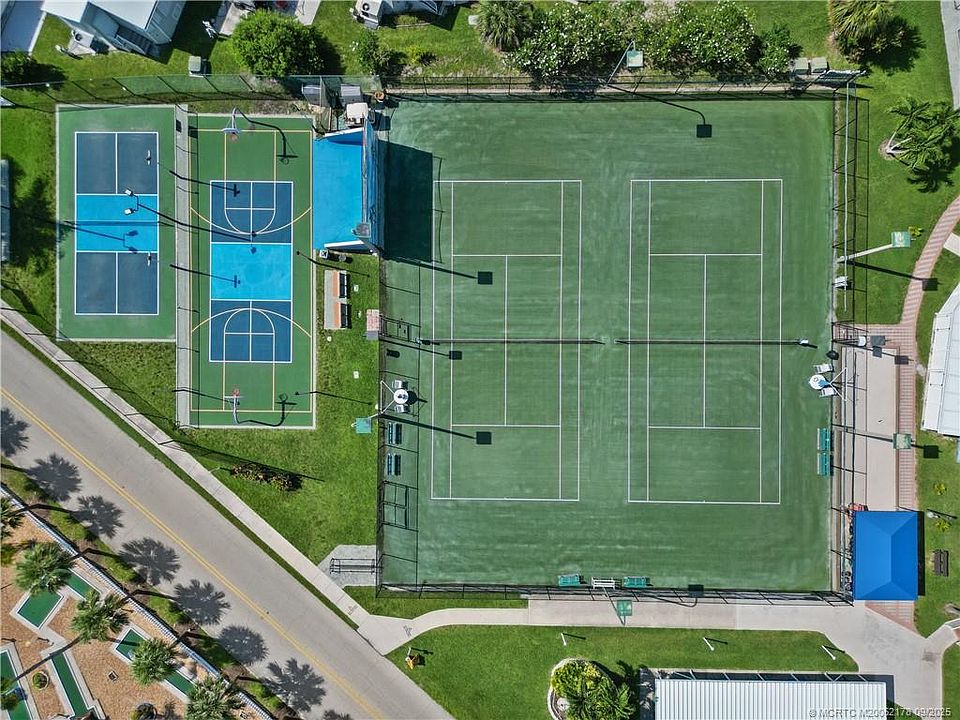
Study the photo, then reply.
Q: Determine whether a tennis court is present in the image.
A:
Yes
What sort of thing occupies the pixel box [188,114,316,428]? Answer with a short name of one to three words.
basketball court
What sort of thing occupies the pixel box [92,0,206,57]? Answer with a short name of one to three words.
house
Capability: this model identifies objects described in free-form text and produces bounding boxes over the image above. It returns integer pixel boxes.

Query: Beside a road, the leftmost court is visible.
[56,104,176,342]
